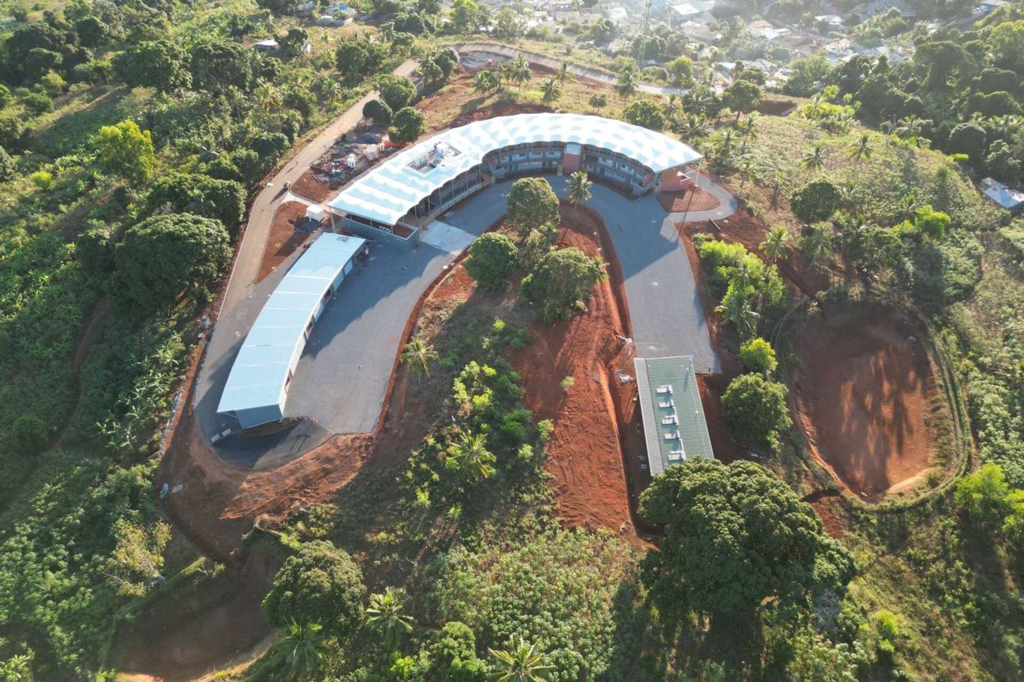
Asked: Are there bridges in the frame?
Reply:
No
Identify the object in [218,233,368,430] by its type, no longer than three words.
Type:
building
